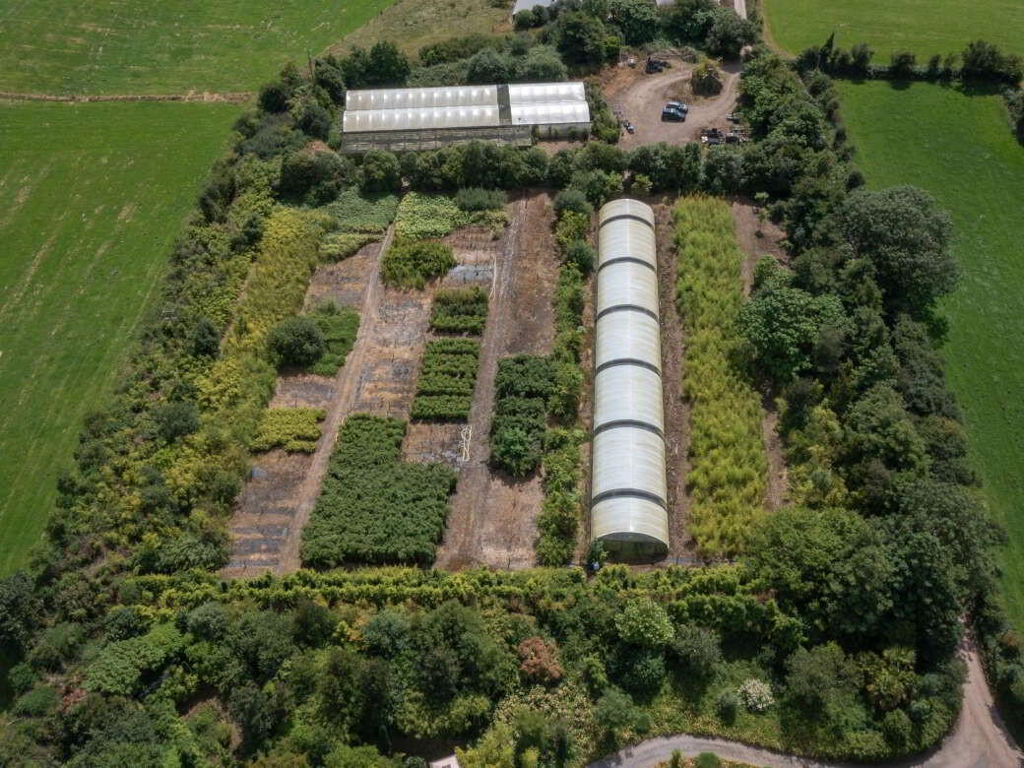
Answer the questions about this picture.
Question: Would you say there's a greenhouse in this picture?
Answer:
Yes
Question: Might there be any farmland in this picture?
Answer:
Yes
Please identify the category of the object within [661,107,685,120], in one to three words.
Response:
vehicle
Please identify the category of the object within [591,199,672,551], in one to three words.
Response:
greenhouse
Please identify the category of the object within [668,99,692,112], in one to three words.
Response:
vehicle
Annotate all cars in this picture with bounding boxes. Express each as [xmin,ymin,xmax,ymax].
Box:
[661,107,685,120]
[668,99,692,112]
